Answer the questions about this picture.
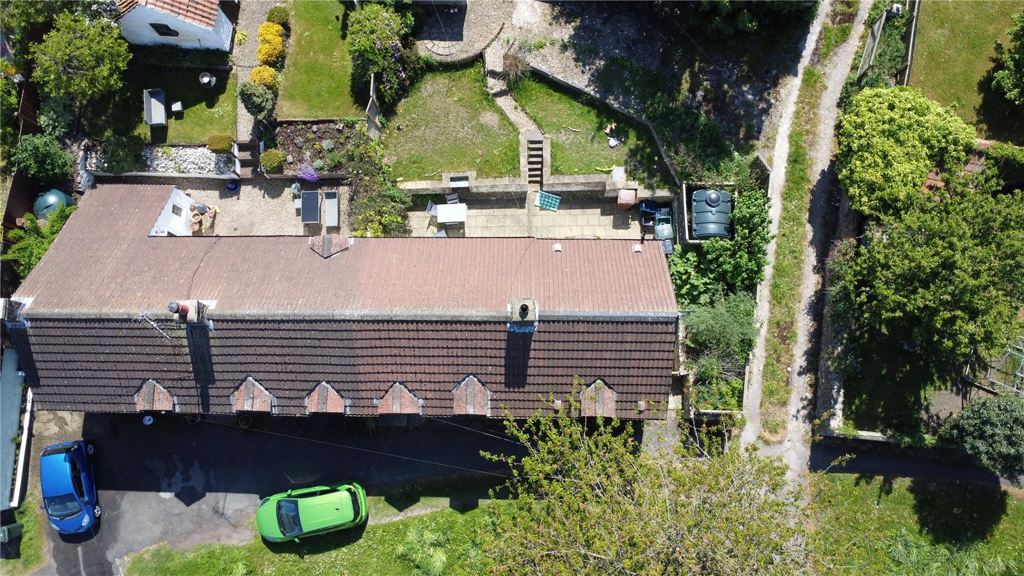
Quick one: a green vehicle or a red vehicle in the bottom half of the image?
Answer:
green vehicle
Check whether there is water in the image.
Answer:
No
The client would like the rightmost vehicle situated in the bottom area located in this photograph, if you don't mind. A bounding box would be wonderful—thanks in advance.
[259,479,369,546]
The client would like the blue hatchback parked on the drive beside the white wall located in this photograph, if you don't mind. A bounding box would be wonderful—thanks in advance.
[37,444,103,535]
